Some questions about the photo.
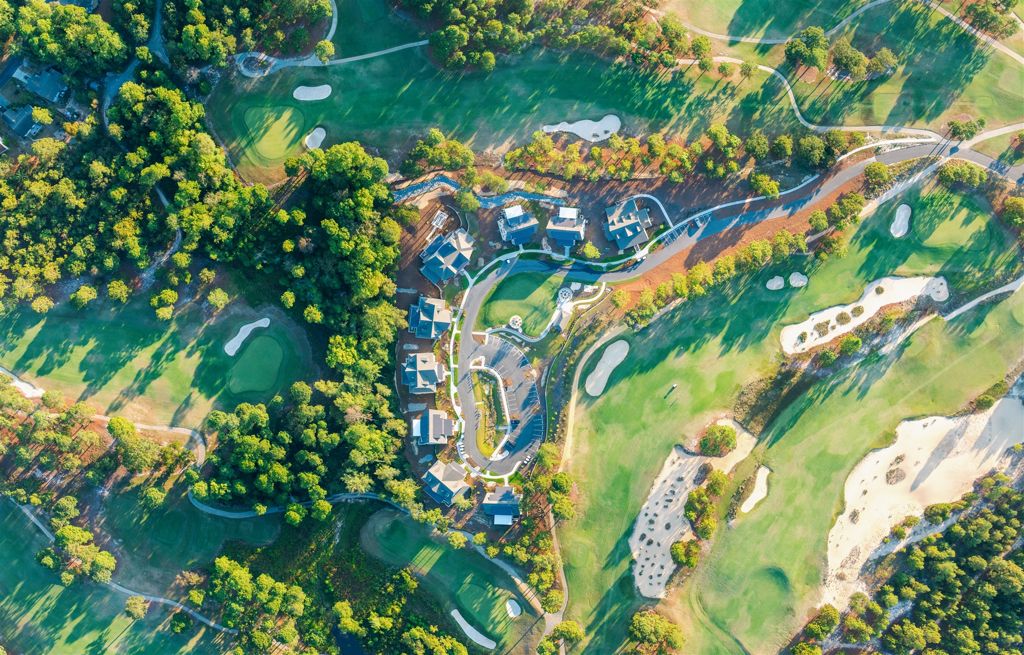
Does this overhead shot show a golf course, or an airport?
golf course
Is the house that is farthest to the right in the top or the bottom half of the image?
top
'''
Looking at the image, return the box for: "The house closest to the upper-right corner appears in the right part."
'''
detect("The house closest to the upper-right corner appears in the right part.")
[600,194,655,250]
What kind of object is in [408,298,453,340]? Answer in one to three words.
house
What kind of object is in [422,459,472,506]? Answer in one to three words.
house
